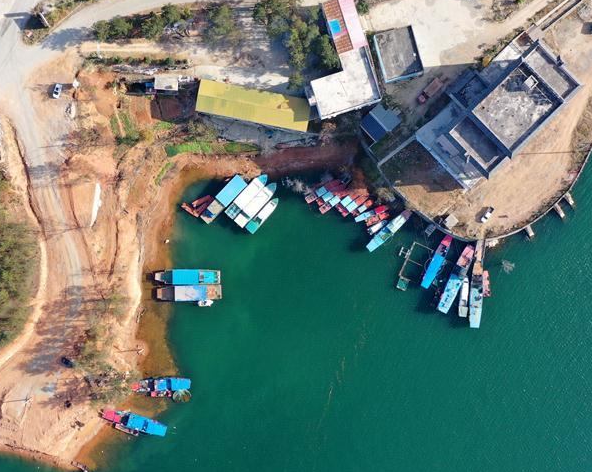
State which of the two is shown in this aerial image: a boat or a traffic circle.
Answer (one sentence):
The one in the frame is a boat.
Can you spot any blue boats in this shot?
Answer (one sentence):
Yes, you can see a blue boat in this photo.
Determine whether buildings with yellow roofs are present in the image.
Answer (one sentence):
Yes, the image includes a building with a yellow roof.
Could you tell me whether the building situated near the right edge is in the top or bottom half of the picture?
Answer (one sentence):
The top half of the photo is where the building situated near the right edge is.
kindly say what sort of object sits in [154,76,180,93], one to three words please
shed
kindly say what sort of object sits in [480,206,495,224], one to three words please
vehicle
